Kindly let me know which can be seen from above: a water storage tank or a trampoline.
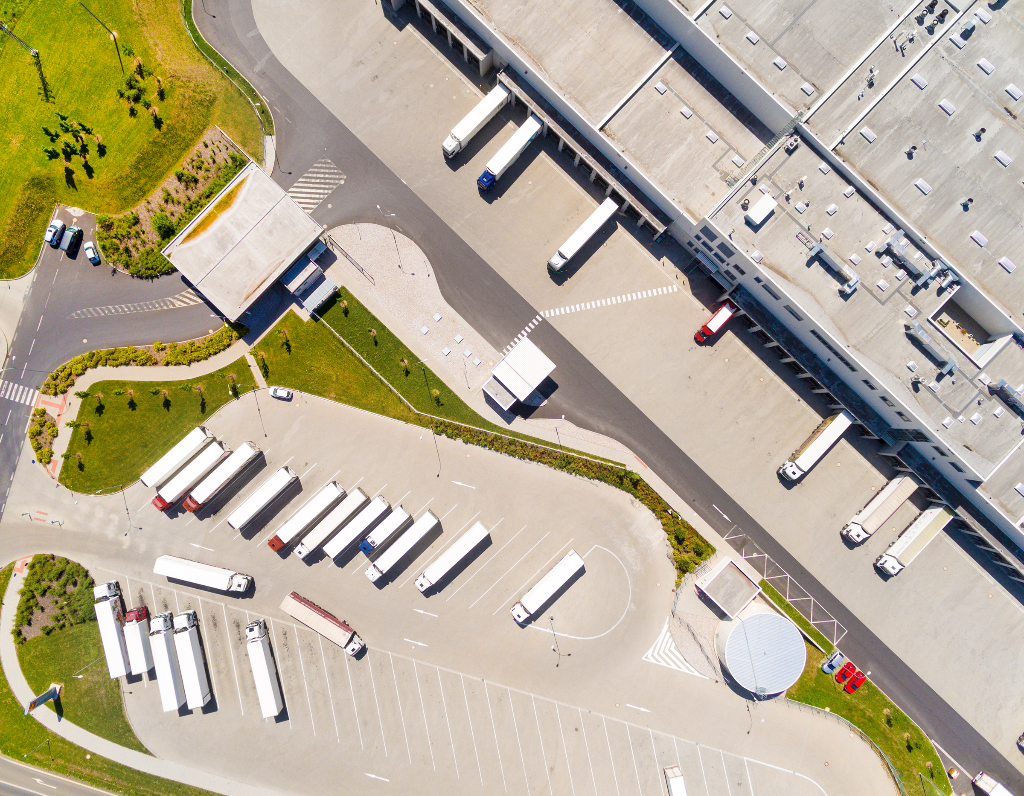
water storage tank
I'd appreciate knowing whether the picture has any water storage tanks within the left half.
No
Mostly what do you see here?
paved ground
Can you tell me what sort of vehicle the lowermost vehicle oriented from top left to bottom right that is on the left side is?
truck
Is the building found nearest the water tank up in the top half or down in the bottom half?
bottom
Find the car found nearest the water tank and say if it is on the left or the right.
right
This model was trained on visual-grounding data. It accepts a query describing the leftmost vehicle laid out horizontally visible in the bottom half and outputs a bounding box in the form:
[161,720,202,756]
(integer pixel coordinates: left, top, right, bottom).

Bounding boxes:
[153,555,253,594]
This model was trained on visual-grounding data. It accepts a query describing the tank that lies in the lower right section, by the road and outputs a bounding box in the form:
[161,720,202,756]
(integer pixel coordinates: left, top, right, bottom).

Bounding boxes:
[715,602,807,699]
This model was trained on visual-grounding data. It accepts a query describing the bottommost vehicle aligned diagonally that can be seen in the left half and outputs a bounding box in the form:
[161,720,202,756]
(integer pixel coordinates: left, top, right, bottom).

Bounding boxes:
[280,590,369,653]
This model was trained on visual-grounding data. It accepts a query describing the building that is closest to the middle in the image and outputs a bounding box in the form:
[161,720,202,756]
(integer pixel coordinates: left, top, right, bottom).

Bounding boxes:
[481,336,556,412]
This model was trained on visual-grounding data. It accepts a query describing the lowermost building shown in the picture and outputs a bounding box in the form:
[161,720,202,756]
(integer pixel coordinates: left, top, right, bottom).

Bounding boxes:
[695,554,762,619]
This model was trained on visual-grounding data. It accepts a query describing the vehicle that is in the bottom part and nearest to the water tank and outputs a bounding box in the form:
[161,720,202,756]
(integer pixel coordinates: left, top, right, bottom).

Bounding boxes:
[822,650,843,674]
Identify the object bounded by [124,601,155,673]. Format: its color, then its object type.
white truck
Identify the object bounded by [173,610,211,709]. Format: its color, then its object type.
white truck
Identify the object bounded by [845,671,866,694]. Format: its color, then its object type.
red car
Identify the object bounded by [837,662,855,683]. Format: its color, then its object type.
red car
